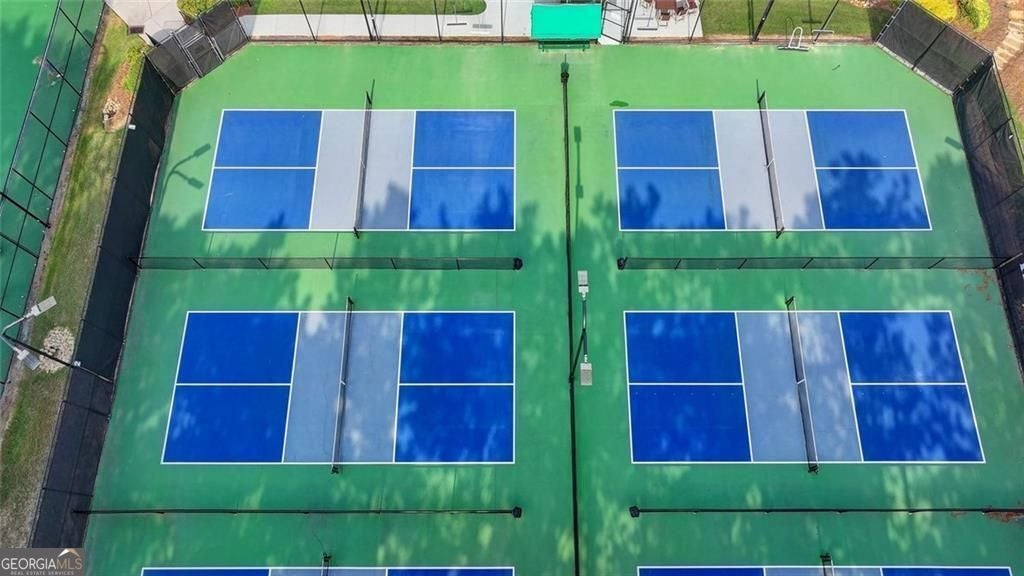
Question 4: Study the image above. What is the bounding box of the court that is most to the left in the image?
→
[0,0,105,415]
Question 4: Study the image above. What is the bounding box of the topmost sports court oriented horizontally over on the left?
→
[201,109,516,232]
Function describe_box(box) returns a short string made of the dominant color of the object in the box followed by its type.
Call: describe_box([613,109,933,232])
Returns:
blue sports court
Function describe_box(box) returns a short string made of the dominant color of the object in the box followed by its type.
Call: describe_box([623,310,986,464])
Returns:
blue sports court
